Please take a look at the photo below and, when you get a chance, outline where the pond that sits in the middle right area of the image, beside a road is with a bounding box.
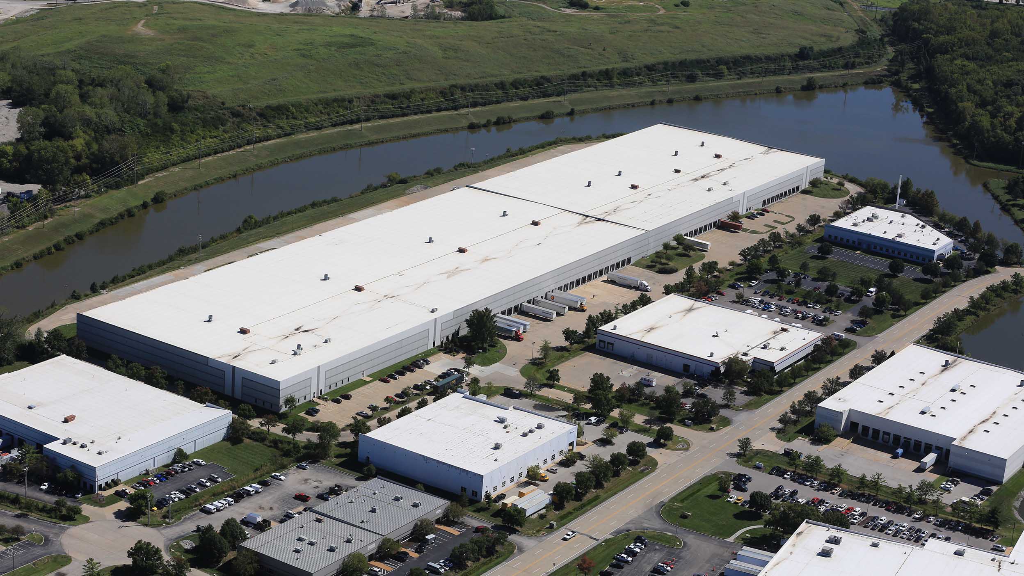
[960,298,1024,370]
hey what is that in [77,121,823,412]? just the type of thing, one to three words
warehouse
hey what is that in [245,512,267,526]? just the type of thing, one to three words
vehicle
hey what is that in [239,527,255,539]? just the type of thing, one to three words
vehicle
